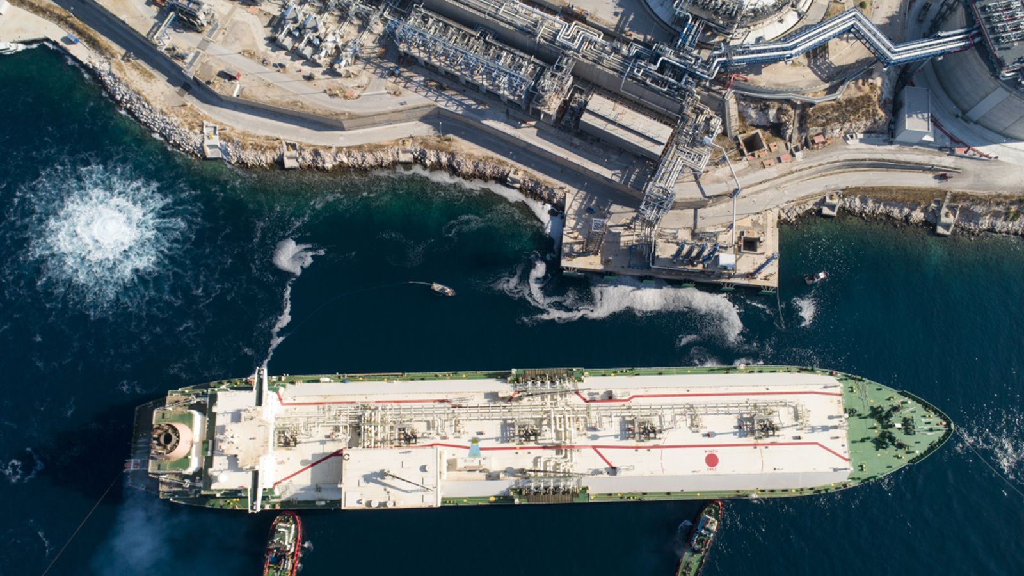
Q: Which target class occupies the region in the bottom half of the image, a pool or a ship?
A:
ship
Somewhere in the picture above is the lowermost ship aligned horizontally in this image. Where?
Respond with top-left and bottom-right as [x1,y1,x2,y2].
[123,363,957,513]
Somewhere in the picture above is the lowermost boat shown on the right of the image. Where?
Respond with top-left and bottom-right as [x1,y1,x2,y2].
[671,500,726,576]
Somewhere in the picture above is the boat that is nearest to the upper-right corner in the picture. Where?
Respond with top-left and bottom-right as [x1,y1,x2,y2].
[803,271,828,285]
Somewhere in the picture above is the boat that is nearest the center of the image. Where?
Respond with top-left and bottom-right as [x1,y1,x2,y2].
[410,281,456,296]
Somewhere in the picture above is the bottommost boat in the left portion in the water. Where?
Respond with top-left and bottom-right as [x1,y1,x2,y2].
[259,511,303,576]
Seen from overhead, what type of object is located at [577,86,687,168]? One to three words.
building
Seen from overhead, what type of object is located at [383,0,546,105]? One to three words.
building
